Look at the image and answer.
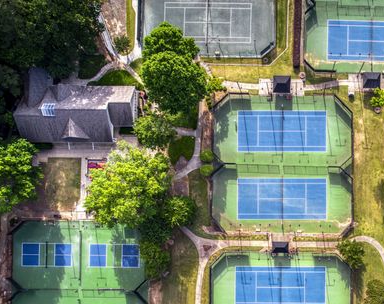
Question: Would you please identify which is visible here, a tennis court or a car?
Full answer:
The image shows a tennis court.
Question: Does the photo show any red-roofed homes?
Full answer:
No, there is no red-roofed home in the image.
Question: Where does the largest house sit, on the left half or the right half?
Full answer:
It is on the left.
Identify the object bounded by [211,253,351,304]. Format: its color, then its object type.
blue tennis court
